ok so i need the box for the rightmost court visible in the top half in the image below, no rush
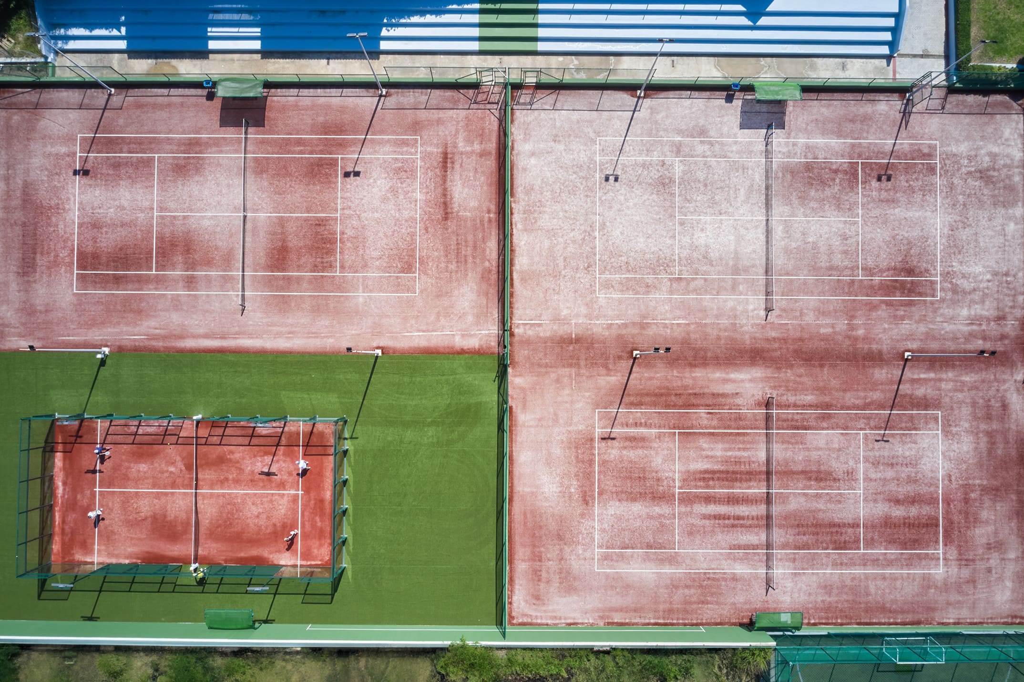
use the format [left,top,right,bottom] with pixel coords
[505,86,1024,347]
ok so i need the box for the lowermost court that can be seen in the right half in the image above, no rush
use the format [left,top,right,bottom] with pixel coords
[504,344,1024,627]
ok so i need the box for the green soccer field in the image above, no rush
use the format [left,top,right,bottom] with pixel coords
[776,634,1024,682]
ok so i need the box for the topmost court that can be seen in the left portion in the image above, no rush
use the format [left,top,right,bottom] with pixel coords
[0,82,506,355]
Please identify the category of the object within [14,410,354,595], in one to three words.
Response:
sports court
